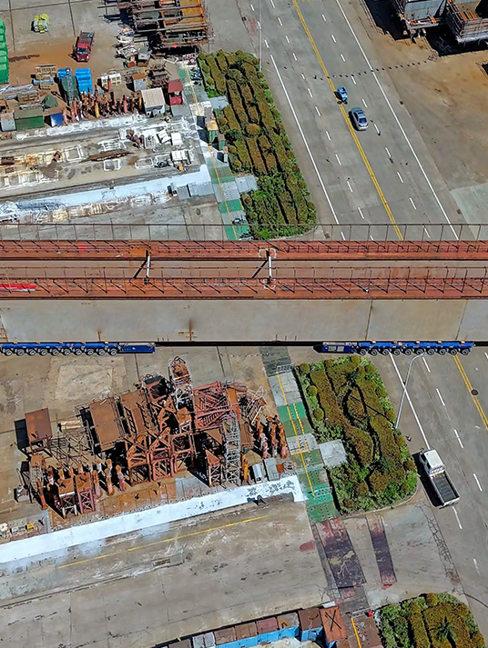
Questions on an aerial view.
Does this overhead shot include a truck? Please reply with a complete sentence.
Yes, a truck appears in the view.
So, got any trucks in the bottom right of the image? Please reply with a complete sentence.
Yes, there is a truck in the bottom right of the image.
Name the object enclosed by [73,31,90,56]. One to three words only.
vehicle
